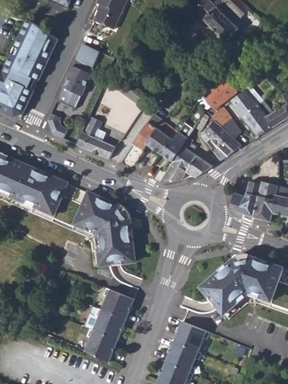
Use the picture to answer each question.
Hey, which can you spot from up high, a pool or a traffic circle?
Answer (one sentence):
The one in the frame is a traffic circle.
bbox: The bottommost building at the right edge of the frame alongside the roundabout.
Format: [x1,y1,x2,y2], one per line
[198,255,286,325]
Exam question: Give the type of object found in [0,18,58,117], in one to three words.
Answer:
building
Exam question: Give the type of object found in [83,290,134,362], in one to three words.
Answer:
house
